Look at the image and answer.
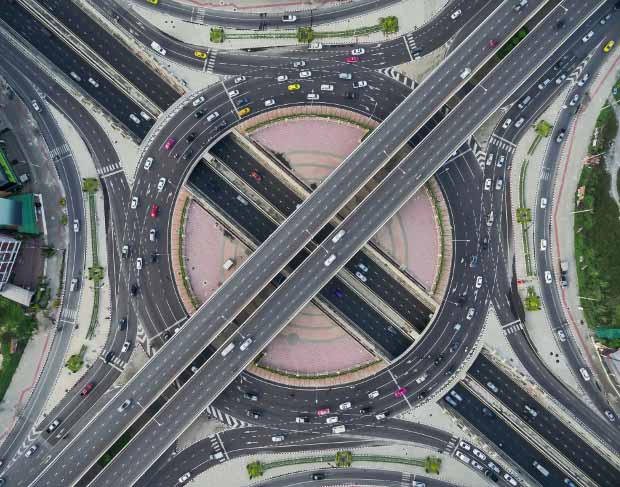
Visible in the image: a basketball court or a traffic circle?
traffic circle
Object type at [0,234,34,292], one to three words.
building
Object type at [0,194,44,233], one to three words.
building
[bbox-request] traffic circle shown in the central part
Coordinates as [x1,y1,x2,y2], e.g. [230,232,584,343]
[122,56,502,436]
